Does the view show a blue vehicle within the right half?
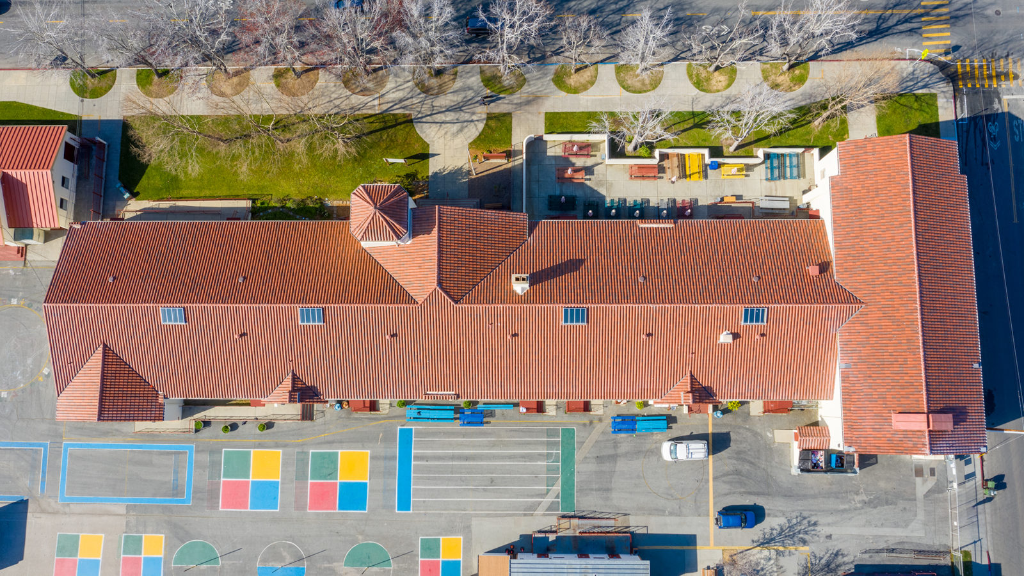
Yes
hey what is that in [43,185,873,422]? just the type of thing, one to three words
building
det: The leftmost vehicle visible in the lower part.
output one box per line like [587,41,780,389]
[661,440,710,462]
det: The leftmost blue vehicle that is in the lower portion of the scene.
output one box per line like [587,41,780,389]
[714,509,755,531]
